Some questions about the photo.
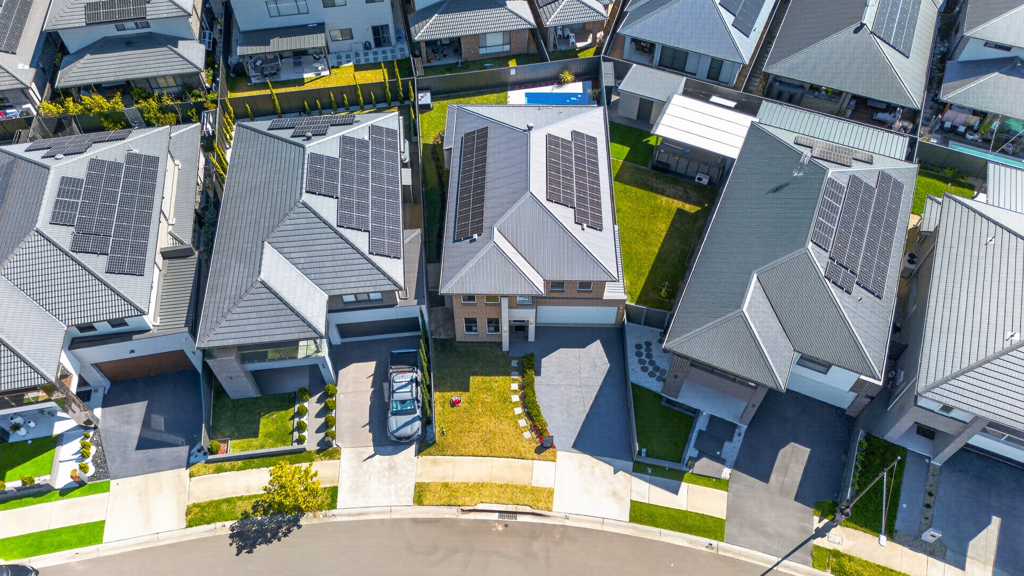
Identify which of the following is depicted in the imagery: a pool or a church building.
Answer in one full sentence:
This aerial view contains a pool.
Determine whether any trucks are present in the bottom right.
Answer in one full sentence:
No, I see no truck in the bottom right.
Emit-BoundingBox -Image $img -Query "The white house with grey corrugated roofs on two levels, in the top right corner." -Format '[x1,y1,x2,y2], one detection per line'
[930,0,1024,148]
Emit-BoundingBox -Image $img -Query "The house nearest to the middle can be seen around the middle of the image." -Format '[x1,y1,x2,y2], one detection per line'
[437,104,631,351]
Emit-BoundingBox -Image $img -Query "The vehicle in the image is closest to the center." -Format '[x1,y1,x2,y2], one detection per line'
[377,345,422,440]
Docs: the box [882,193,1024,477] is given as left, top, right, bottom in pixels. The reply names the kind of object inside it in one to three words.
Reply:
house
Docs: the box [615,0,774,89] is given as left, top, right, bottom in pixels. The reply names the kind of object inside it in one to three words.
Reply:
house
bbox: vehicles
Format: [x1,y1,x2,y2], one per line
[377,345,422,440]
[0,559,42,576]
